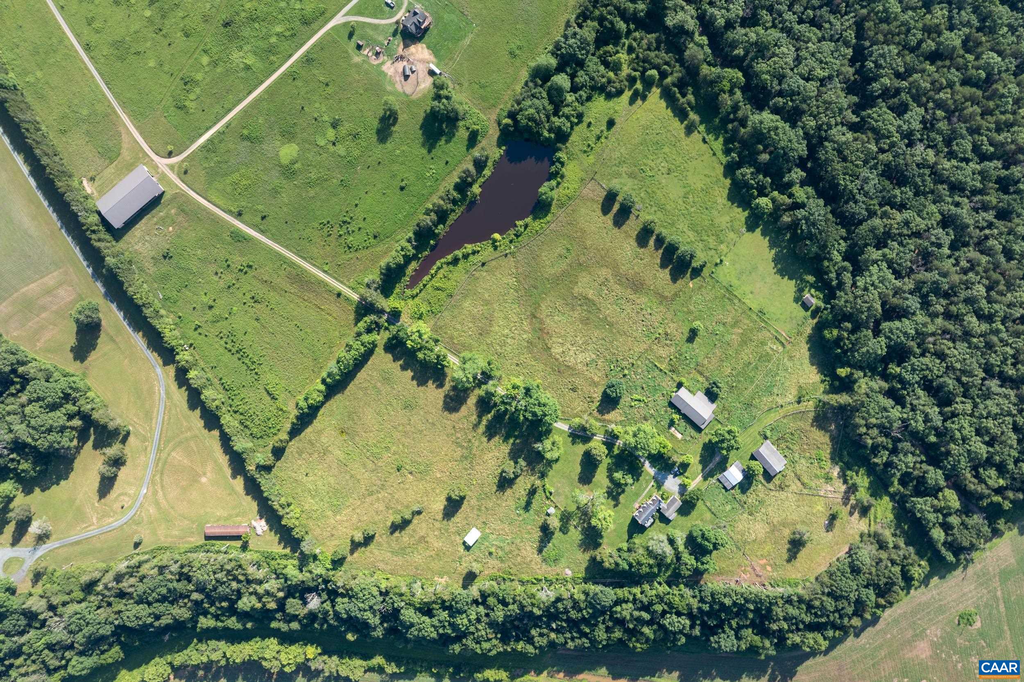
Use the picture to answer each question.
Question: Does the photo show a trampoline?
No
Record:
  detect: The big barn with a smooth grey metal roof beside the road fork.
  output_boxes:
[96,164,167,229]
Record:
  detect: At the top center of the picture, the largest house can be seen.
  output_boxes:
[403,8,432,37]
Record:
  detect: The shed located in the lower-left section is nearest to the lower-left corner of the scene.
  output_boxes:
[205,524,250,536]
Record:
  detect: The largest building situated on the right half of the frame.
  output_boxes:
[670,387,717,429]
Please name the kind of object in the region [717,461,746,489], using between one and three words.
shed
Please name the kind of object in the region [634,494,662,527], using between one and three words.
house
